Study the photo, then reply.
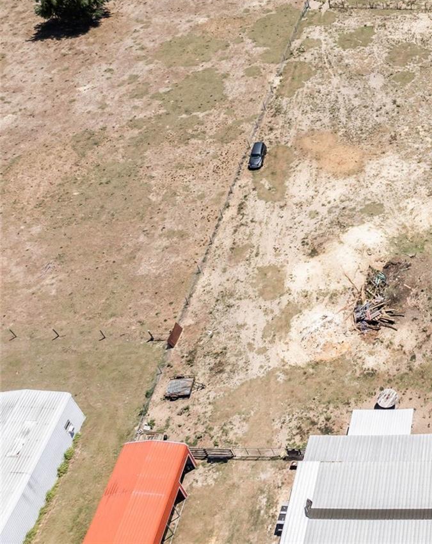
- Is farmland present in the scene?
Yes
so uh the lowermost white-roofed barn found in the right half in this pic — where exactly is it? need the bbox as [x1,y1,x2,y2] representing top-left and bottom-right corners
[279,436,432,544]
